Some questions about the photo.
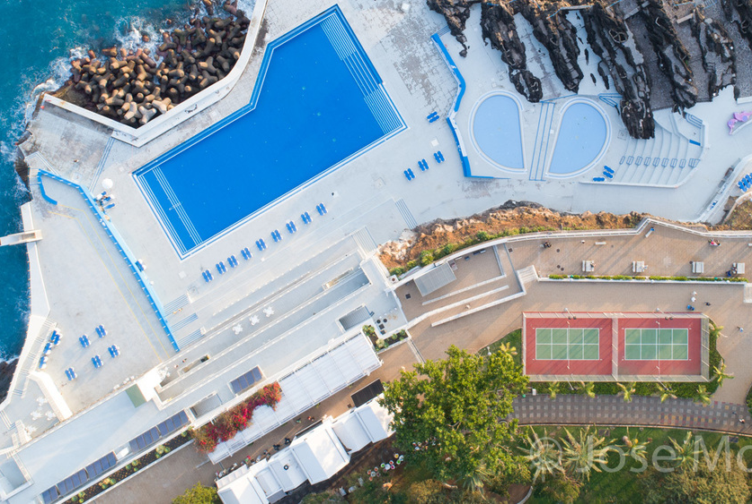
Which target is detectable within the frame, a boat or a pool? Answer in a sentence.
This aerial view contains a pool.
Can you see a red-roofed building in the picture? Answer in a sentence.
No, the frame has no red-roofed building in it.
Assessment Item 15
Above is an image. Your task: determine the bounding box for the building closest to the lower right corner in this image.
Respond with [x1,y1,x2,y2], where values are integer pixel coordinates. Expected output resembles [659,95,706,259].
[413,261,456,297]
